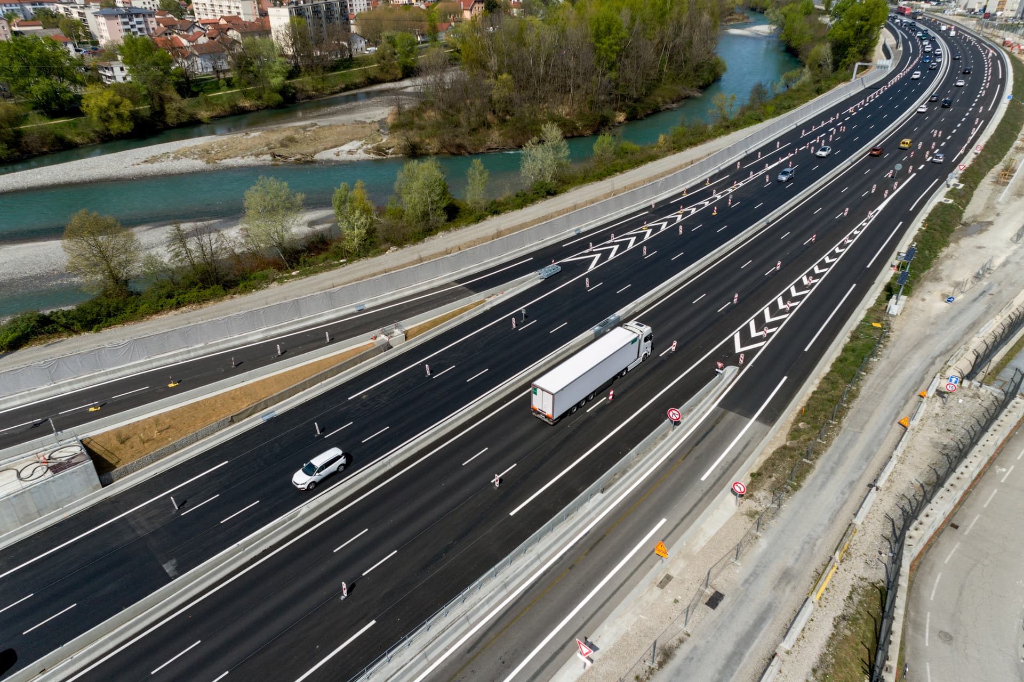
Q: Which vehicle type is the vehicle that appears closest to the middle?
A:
truck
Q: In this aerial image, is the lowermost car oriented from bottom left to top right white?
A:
Yes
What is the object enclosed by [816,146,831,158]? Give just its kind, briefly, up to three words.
vehicle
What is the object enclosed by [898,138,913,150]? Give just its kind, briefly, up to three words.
vehicle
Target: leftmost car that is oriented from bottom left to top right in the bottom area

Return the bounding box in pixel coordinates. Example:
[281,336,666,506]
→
[291,447,350,490]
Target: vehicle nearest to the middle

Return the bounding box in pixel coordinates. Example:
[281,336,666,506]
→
[531,325,655,426]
